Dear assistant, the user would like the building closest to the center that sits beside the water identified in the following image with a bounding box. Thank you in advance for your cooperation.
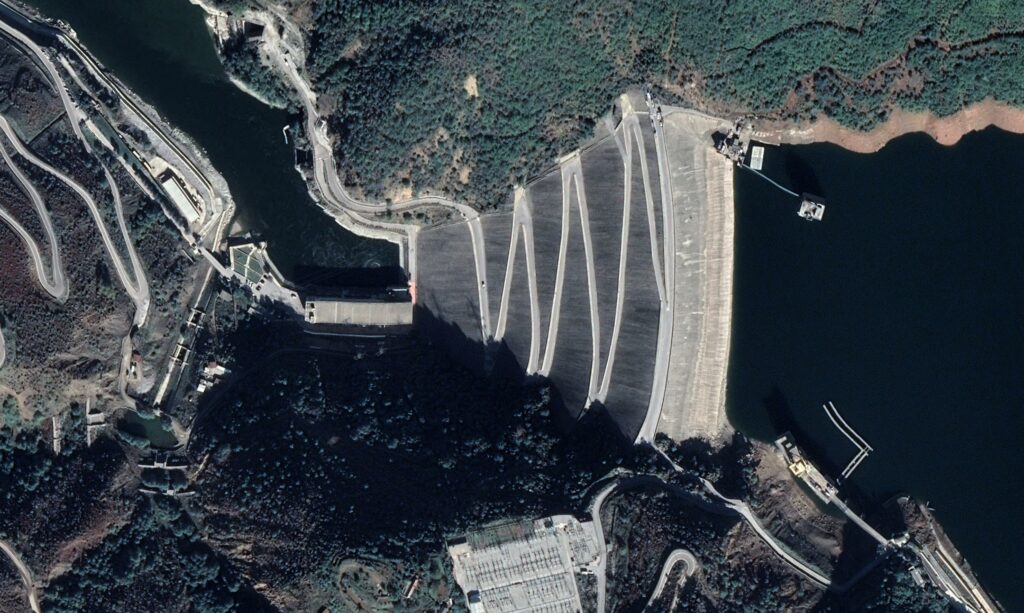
[303,296,413,337]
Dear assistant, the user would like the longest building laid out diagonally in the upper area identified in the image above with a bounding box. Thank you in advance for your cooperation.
[163,176,201,222]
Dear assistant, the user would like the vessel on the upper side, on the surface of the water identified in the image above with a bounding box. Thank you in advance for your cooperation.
[750,146,764,170]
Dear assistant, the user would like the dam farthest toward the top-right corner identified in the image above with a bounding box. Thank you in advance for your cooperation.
[413,107,741,447]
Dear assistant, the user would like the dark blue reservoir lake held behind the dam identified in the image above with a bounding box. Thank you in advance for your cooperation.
[728,125,1024,613]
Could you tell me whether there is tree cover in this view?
Yes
